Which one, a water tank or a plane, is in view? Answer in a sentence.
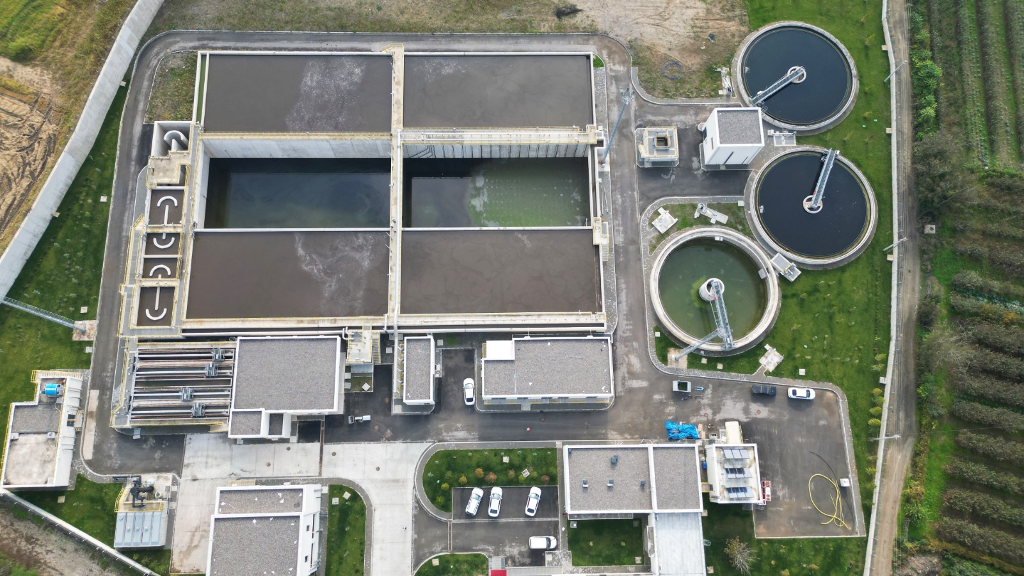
It is a water tank that can be seen here.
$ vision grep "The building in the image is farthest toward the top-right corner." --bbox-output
[703,107,764,168]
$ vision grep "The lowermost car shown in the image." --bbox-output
[529,535,558,551]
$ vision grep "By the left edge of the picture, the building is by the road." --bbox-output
[0,369,87,487]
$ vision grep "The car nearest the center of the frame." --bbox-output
[462,378,476,406]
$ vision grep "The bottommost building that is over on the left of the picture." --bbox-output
[205,480,321,576]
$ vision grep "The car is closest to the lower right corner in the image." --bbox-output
[786,388,815,401]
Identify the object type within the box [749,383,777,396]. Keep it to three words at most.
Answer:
vehicle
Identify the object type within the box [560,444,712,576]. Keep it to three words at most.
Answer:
building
